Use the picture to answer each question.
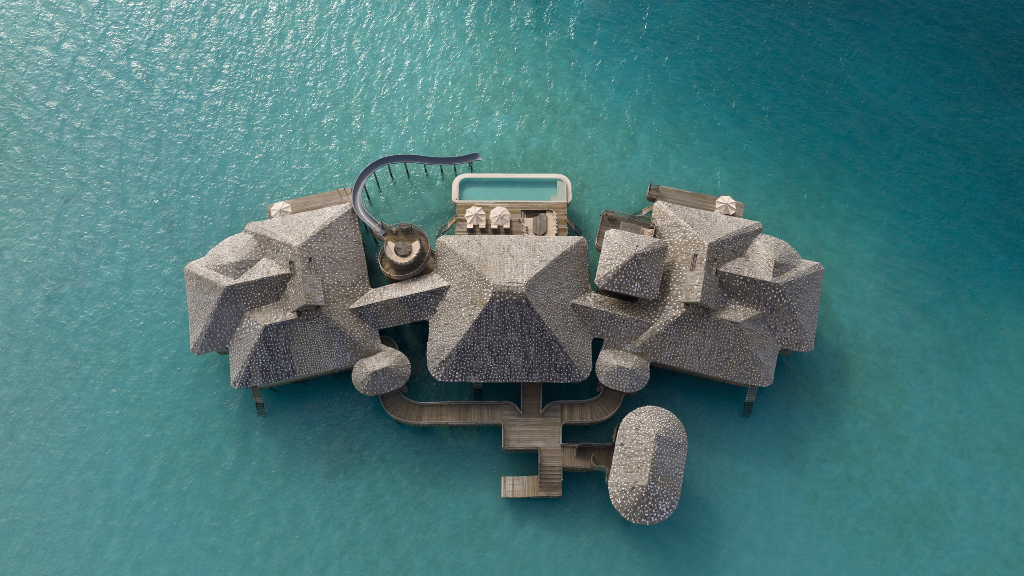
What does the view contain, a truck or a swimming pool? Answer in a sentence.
Visible in the photo is a swimming pool.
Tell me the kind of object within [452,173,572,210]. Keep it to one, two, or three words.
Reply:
swimming pool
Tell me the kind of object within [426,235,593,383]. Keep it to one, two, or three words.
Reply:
building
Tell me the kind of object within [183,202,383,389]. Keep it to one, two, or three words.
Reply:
house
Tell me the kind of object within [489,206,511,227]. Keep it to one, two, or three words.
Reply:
umbrella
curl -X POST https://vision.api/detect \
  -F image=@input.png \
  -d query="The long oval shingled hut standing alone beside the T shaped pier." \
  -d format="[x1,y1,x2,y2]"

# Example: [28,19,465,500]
[608,406,689,526]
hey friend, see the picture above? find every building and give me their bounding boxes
[426,235,593,383]
[608,406,689,526]
[628,200,826,388]
[183,202,383,389]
